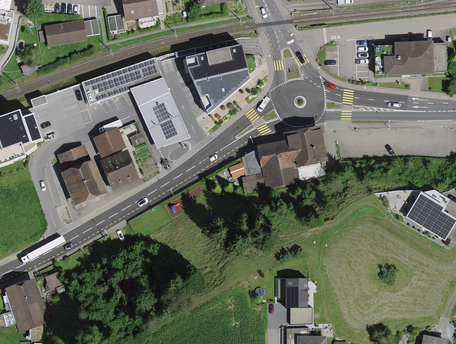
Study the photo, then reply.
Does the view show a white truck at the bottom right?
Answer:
No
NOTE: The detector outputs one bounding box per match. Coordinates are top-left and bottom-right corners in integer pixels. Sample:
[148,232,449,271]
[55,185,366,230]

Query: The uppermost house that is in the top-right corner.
[384,41,447,78]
